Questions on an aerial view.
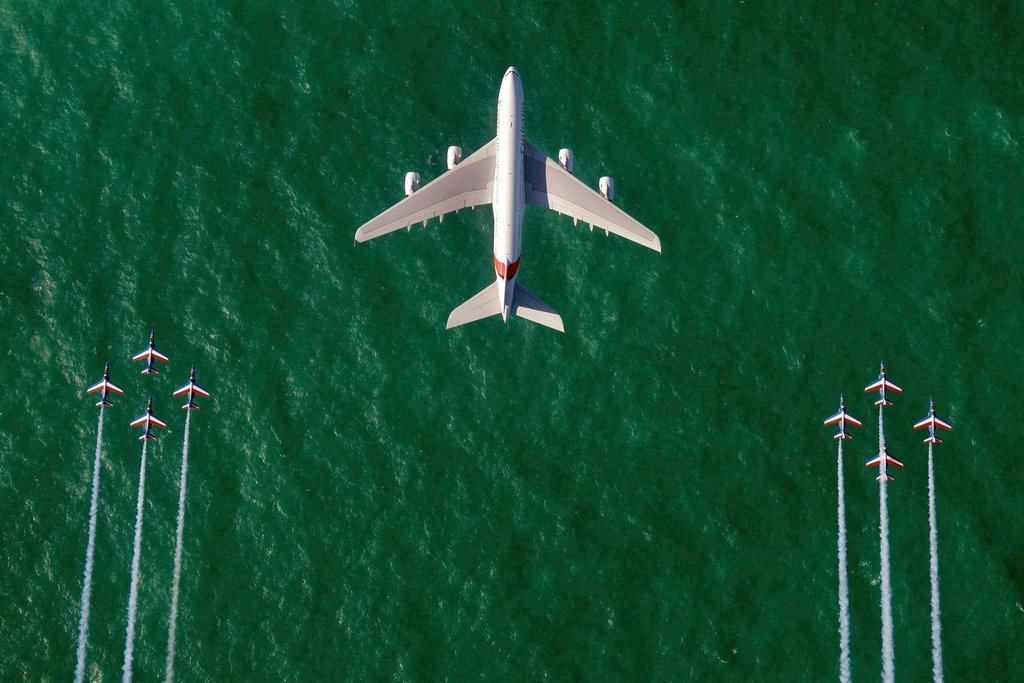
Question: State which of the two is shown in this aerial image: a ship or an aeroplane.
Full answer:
Visible in the photo is an aeroplane.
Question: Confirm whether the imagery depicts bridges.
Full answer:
No, there appears to be no bridge in this shot.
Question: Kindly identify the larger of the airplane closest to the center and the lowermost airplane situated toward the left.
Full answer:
Of the two, the airplane closest to the center is larger and the lowermost airplane situated toward the left is the smaller one.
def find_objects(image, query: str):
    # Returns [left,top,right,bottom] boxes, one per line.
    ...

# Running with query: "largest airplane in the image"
[354,67,660,332]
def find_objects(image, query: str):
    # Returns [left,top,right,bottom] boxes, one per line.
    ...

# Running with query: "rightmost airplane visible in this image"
[914,398,951,443]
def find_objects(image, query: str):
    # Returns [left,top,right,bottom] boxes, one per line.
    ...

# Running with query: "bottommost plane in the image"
[866,435,903,480]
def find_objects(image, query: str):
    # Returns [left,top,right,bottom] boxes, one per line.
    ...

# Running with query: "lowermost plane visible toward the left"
[131,396,167,440]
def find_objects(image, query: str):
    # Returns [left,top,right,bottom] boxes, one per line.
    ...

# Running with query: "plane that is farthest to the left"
[87,361,123,406]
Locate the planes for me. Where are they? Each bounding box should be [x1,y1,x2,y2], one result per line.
[864,358,902,405]
[866,435,903,480]
[87,361,123,406]
[173,364,210,409]
[824,394,862,439]
[914,398,951,443]
[131,396,167,440]
[133,331,169,374]
[354,67,660,332]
